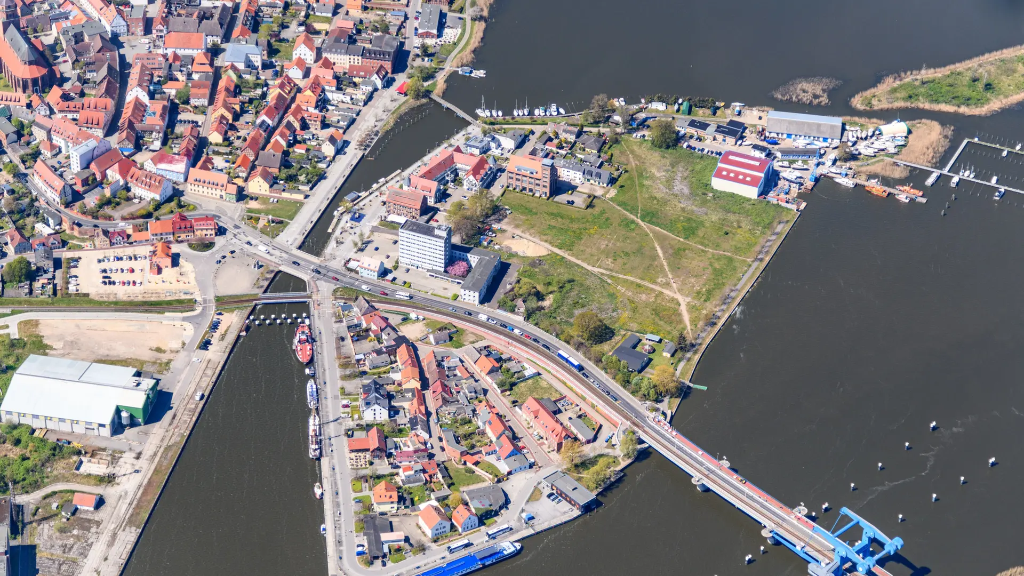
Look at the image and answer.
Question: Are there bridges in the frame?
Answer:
Yes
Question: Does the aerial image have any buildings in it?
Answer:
Yes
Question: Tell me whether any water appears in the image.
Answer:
Yes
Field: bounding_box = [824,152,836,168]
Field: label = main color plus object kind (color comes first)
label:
white boat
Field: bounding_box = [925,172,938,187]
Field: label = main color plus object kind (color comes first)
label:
white boat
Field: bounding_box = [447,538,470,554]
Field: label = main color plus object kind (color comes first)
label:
white vehicle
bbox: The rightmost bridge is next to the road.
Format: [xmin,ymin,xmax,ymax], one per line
[631,419,906,576]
